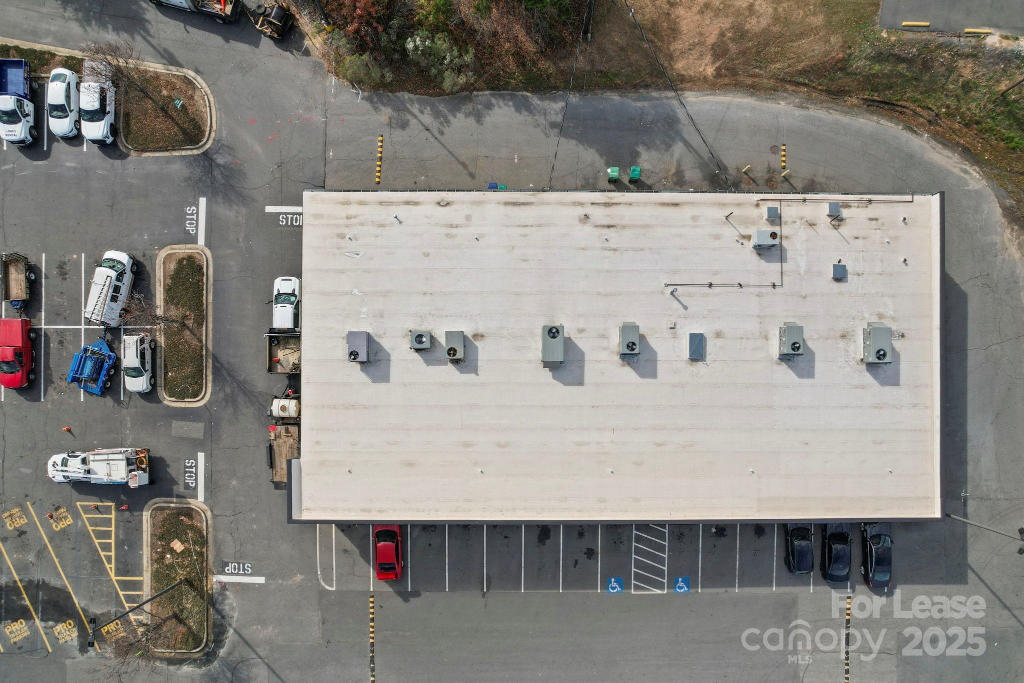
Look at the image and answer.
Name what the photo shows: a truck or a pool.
truck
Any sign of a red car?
Yes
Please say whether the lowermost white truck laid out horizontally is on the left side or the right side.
left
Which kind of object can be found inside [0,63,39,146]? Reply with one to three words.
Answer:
truck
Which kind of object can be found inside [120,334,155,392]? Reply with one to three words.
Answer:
car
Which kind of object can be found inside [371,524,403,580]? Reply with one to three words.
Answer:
car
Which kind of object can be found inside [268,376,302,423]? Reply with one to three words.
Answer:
trailer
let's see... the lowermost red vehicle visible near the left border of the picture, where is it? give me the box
[0,316,36,392]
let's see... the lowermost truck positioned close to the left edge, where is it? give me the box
[42,450,152,494]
